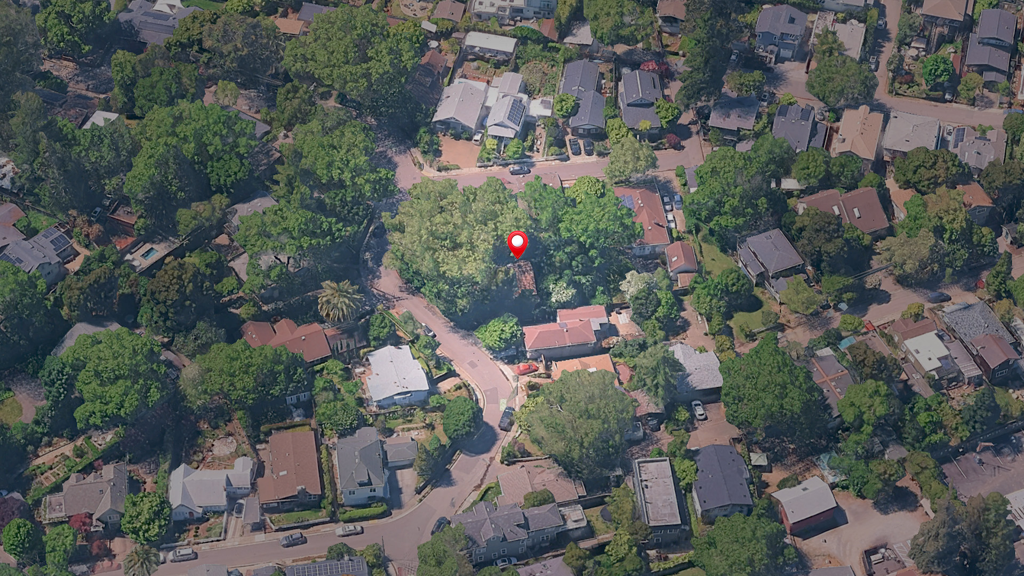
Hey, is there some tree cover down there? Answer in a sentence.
Yes, there is tree cover in the image.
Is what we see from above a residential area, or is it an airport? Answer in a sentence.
This image shows a residential area.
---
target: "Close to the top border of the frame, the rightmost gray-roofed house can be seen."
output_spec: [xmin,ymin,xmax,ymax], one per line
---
[961,8,1017,92]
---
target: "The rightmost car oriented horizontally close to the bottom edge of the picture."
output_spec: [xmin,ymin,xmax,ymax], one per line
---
[491,554,520,568]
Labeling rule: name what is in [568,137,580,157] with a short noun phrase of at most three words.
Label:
vehicle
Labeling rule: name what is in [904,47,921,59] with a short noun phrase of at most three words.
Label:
umbrella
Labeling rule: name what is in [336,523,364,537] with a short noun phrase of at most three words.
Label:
car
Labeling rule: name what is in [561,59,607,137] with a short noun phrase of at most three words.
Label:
house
